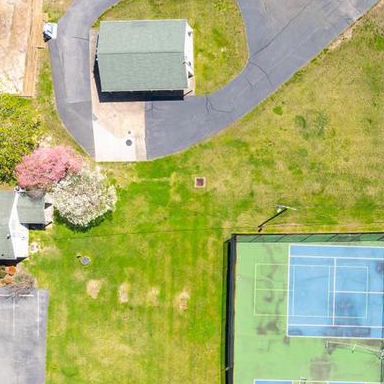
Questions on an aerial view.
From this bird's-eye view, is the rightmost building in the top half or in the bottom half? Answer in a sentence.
Seen from above, the rightmost building lies in the top half of the view.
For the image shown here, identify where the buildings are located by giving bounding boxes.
[97,20,198,95]
[0,188,56,262]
